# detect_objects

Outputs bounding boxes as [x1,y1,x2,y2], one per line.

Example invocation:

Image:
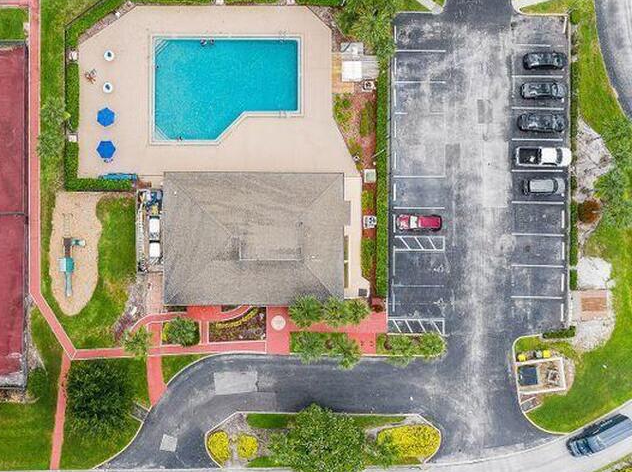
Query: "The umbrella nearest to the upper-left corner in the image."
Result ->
[97,107,115,127]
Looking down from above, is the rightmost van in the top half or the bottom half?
bottom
